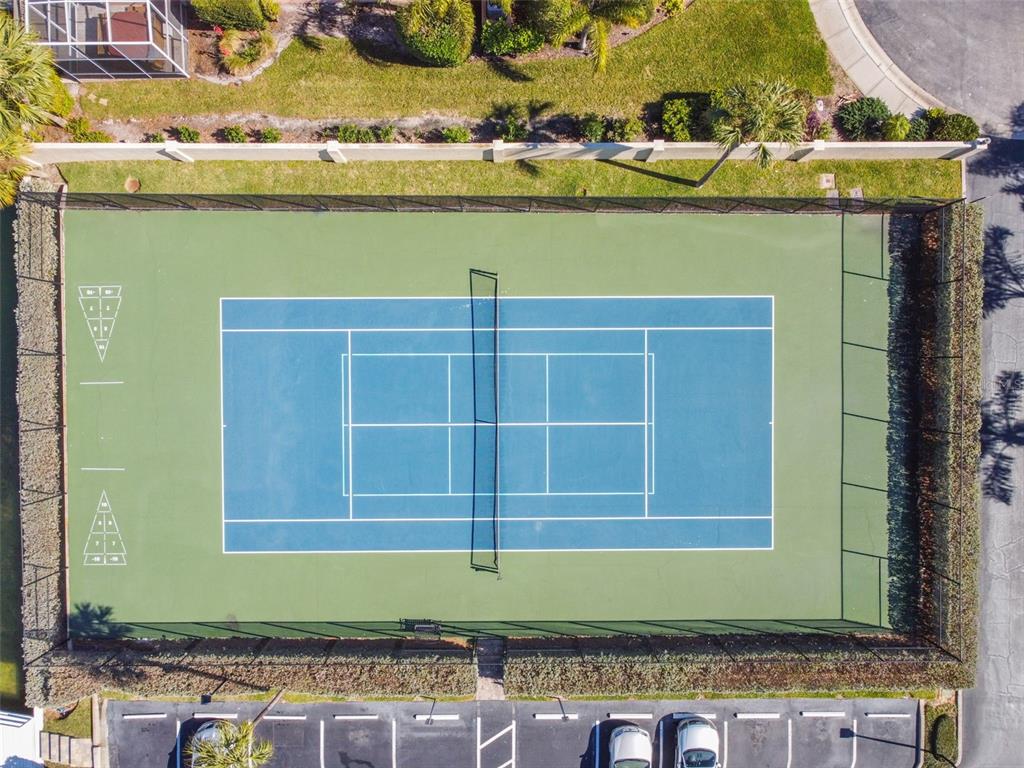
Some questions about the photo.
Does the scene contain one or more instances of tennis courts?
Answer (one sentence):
Yes, the frame does contain a tennis court.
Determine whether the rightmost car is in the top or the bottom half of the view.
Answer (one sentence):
The rightmost car sits in the bottom half of the picture.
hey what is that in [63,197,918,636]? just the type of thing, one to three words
tennis court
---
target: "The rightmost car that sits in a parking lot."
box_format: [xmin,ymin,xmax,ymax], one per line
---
[673,717,726,768]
